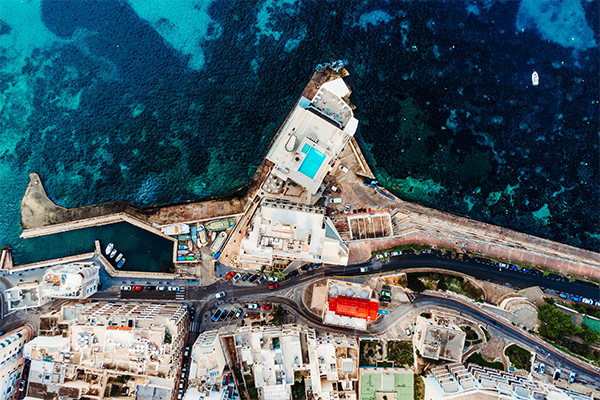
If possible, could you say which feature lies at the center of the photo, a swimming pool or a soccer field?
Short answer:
swimming pool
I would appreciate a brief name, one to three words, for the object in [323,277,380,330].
building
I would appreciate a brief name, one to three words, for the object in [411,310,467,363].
house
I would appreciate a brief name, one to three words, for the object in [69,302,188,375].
building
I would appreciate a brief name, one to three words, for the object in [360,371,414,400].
sports court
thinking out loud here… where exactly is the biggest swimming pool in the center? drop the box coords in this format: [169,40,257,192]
[297,145,328,180]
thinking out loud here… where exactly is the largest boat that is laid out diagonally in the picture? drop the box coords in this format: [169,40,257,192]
[210,232,225,255]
